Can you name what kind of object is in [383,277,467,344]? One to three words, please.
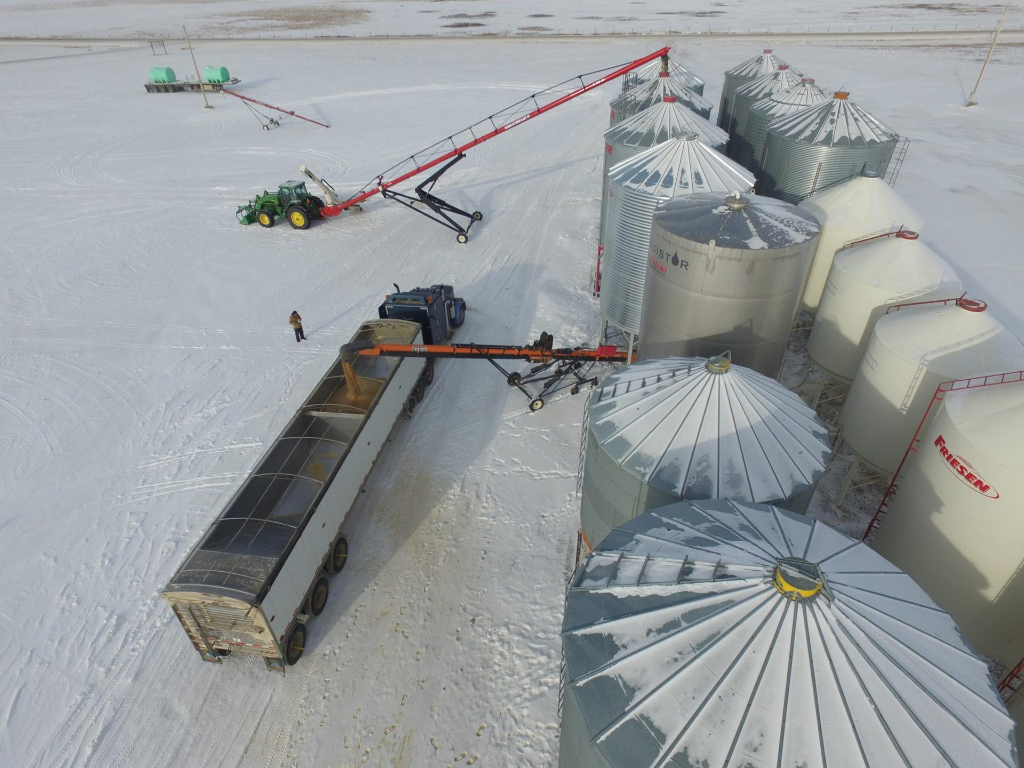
truck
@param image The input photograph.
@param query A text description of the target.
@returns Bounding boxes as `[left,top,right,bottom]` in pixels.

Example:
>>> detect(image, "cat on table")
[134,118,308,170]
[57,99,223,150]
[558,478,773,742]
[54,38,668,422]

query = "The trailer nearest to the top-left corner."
[143,76,241,93]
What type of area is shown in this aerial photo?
industrial area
